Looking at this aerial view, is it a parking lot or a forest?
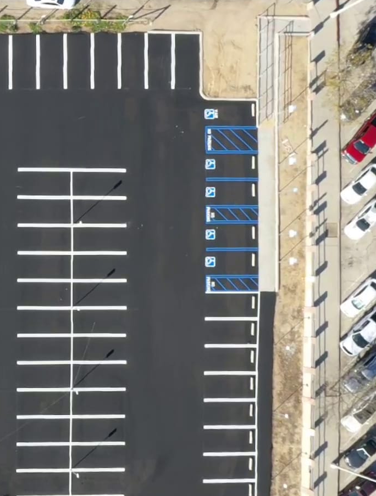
parking lot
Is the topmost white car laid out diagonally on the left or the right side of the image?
right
